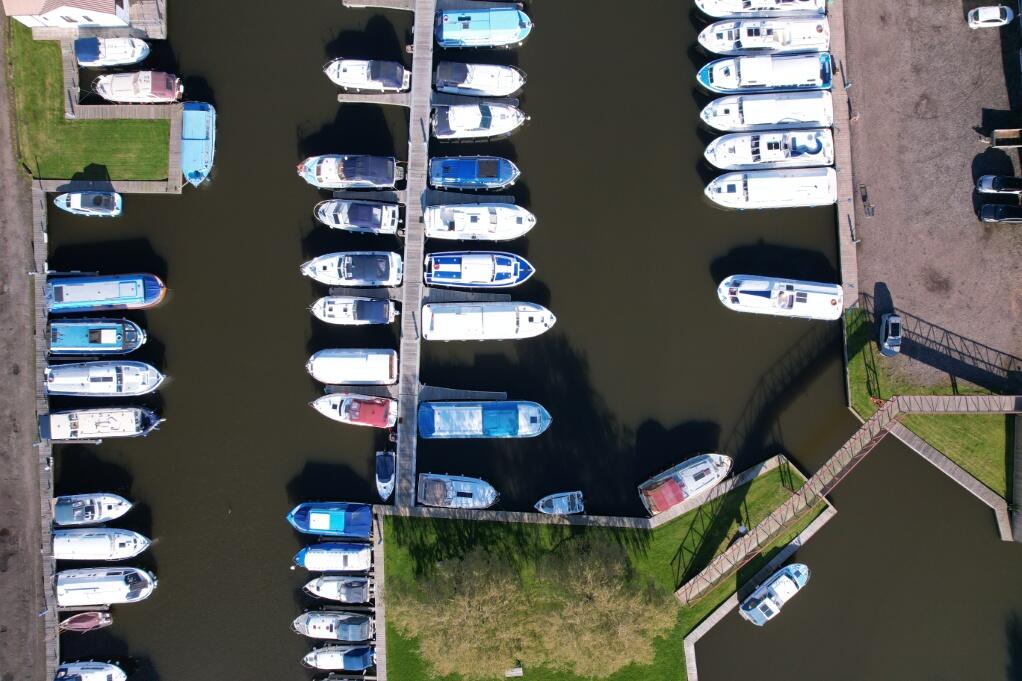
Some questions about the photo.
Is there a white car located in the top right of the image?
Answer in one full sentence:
Yes, looking in the top right of the image, one can make out a white car.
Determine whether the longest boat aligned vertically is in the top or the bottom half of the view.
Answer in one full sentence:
Seen from above, the longest boat aligned vertically lies in the top half of the view.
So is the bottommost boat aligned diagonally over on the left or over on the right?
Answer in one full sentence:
The bottommost boat aligned diagonally sits on the right side.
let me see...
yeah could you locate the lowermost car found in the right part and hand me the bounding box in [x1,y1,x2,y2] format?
[876,315,903,357]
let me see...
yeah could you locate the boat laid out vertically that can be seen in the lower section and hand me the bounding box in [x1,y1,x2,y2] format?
[376,447,395,501]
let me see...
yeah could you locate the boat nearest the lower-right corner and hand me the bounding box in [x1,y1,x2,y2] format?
[741,565,812,625]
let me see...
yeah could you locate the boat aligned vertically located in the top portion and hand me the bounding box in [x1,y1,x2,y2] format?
[181,102,220,190]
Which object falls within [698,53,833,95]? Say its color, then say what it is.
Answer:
white boat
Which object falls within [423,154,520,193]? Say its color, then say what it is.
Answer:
blue boat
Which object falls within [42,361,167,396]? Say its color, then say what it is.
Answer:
white boat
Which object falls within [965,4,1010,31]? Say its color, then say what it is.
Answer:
white car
